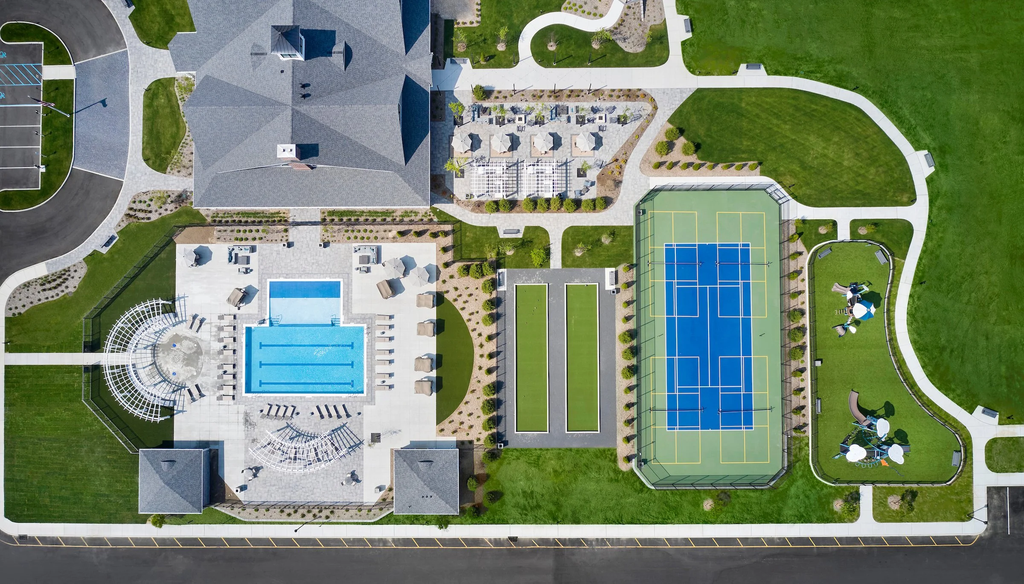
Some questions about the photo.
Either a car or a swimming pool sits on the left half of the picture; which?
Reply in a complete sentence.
You can see a swimming pool on the left half of the picture.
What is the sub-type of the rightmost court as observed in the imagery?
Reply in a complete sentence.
The rightmost court in the image is a tennis court.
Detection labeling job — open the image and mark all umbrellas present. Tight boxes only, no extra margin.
[177,246,198,266]
[534,131,554,151]
[408,266,435,289]
[382,258,405,278]
[491,132,511,152]
[451,132,472,152]
[575,131,596,151]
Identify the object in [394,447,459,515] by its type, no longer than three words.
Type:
building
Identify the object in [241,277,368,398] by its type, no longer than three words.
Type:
swimming pool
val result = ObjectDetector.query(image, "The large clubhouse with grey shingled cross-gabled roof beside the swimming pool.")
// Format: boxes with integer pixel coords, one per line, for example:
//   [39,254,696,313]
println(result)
[166,0,436,209]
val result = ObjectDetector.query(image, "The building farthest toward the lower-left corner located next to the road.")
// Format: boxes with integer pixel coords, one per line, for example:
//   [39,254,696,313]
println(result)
[139,447,209,514]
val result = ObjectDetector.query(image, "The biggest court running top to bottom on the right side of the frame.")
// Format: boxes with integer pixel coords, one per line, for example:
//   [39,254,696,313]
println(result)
[633,189,784,487]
